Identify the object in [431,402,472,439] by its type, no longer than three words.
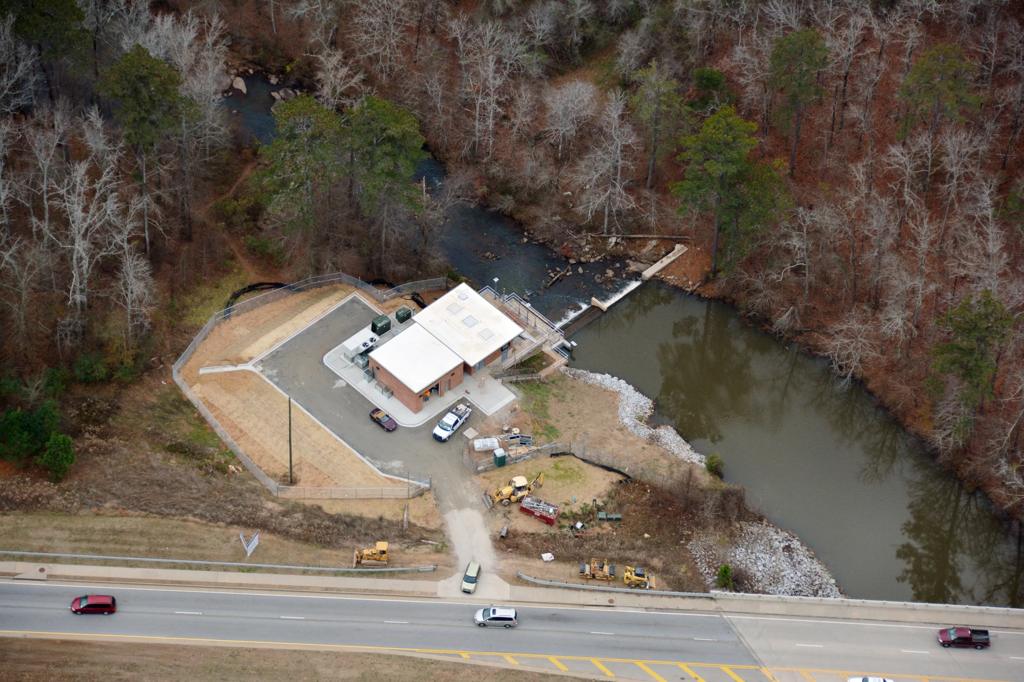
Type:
truck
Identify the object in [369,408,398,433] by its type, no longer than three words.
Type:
car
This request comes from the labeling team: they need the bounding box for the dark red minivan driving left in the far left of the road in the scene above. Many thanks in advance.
[72,596,116,618]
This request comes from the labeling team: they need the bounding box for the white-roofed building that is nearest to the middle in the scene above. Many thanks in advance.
[411,283,525,375]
